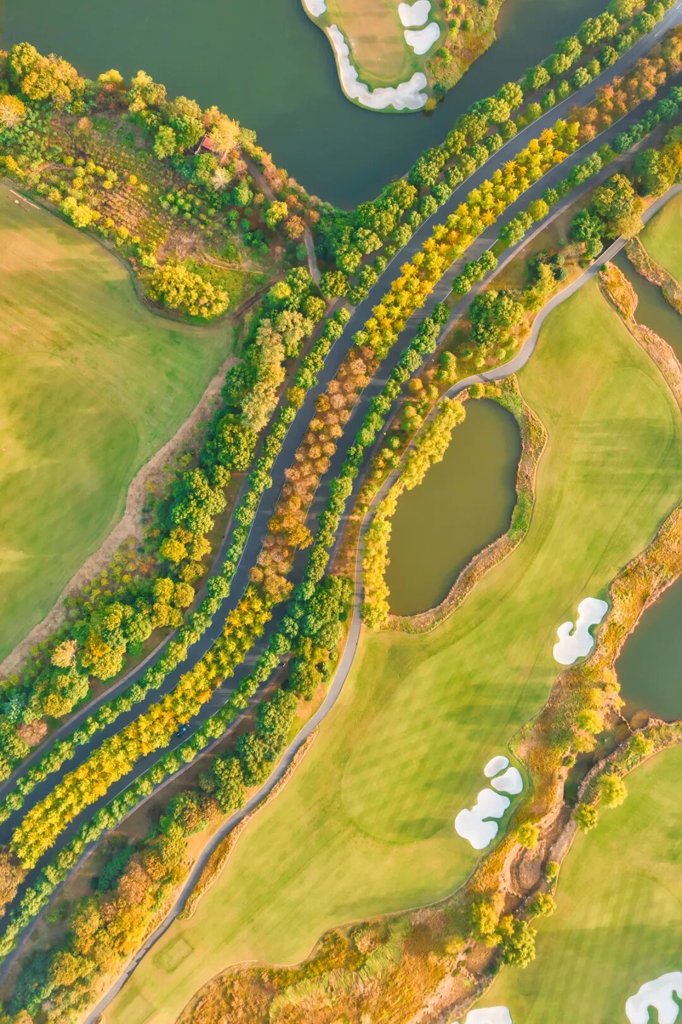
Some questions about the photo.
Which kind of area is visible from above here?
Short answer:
golf course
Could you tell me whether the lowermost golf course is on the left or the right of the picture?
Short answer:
right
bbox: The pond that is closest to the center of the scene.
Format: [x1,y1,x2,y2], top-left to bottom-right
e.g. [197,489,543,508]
[382,401,521,615]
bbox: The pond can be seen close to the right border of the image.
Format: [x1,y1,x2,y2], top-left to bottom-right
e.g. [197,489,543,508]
[615,576,682,734]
